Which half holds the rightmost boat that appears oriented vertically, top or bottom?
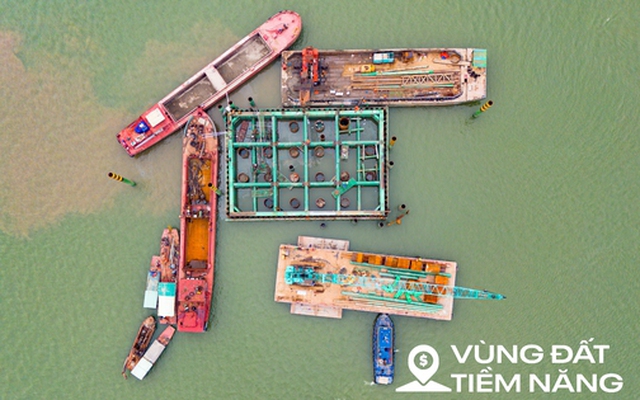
bottom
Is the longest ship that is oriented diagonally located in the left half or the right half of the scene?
left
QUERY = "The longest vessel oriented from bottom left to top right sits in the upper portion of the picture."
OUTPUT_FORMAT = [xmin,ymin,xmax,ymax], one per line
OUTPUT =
[116,14,303,155]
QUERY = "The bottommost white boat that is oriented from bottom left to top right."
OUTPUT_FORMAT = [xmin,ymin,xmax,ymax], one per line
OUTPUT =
[131,324,176,381]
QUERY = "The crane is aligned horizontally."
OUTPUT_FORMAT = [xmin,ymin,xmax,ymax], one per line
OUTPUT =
[284,261,505,300]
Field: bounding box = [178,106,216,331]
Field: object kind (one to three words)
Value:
ship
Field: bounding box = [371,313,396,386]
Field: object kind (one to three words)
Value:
boat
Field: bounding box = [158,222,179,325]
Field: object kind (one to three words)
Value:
boat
